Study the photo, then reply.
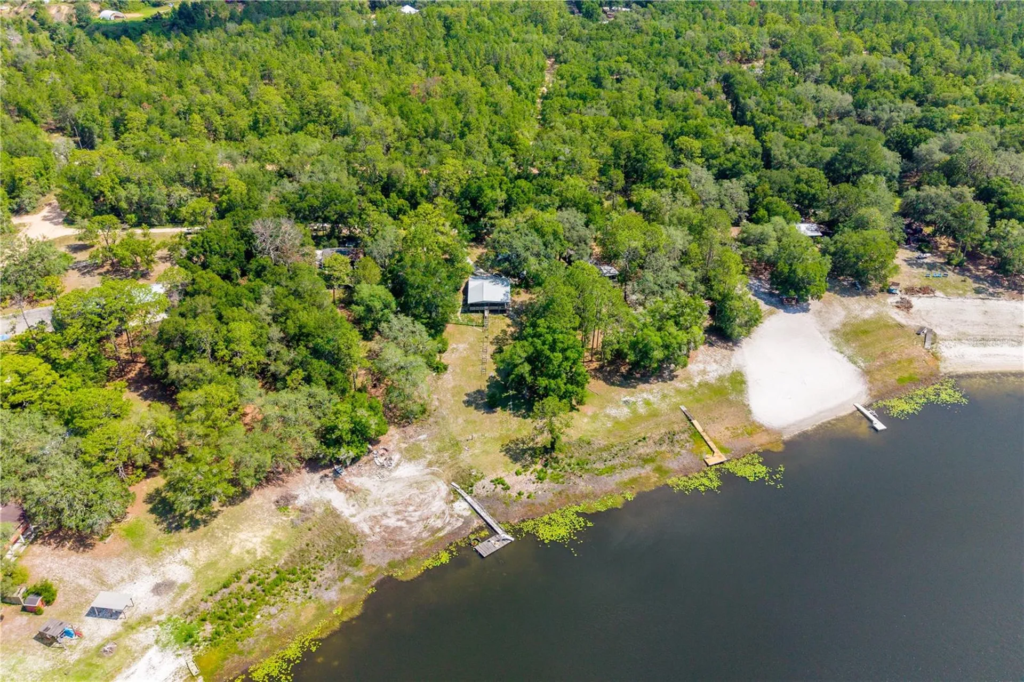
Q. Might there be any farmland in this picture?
No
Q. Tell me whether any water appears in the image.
Yes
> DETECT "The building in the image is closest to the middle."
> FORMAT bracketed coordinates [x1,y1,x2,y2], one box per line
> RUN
[469,275,511,320]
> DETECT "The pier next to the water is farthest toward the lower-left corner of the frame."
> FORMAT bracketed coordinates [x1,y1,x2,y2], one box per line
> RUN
[450,482,514,561]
